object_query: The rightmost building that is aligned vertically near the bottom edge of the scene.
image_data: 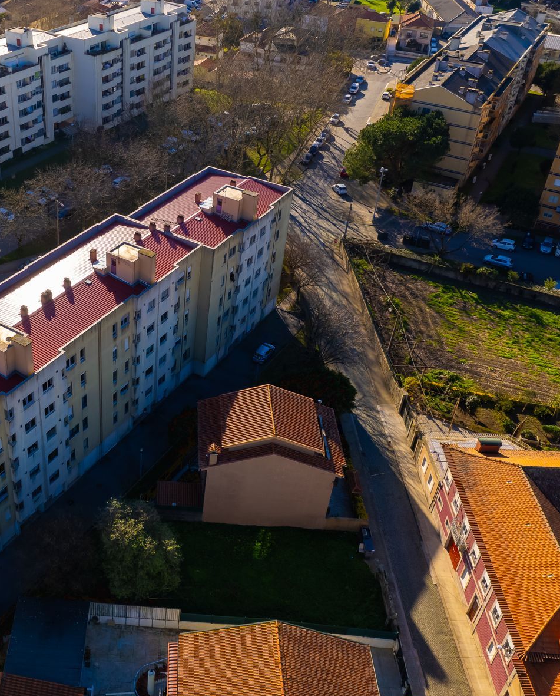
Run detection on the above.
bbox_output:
[432,458,560,696]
